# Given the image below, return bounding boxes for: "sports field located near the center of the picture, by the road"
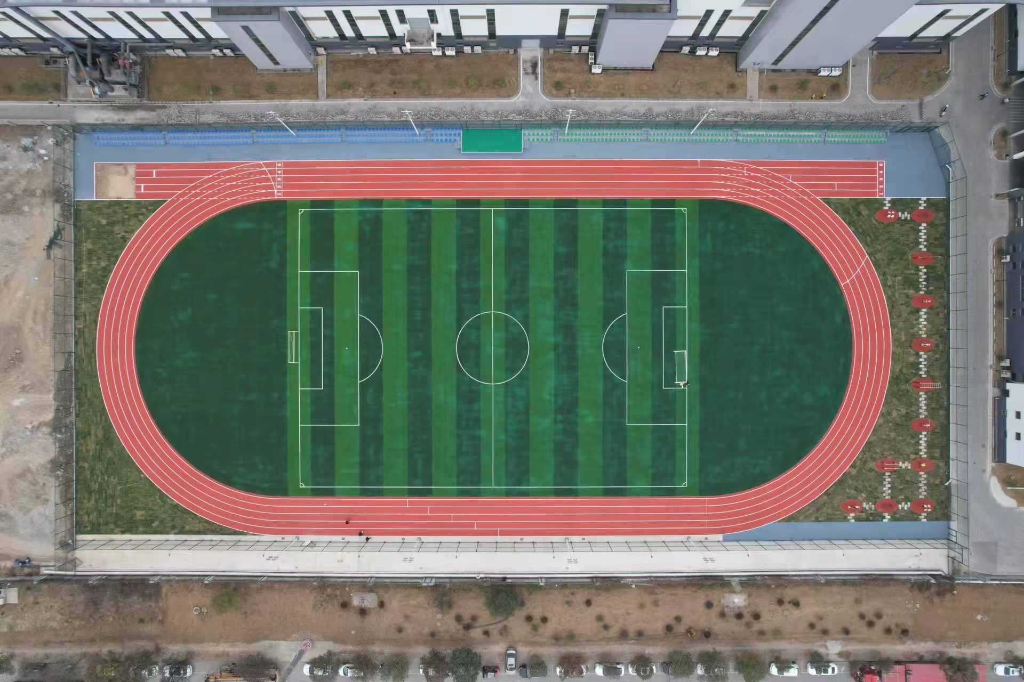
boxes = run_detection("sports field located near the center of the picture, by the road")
[136,200,852,496]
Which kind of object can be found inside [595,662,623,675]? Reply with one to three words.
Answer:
vehicle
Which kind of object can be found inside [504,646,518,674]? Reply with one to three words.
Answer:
car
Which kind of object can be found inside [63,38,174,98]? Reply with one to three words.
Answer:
building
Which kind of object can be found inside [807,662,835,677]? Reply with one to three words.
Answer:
car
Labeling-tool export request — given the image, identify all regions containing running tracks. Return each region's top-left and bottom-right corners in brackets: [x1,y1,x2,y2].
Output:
[94,160,892,536]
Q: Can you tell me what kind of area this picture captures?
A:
sports ground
